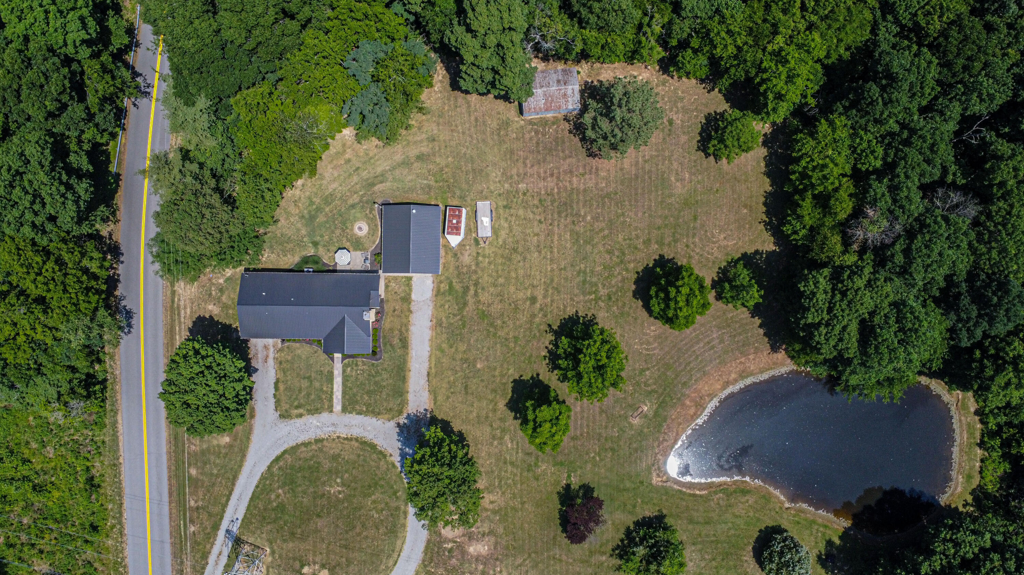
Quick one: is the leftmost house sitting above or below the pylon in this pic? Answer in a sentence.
Looking at the scene, the leftmost house is located above the pylon.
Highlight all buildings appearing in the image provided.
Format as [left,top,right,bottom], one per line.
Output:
[236,272,381,355]
[521,67,580,116]
[381,204,442,275]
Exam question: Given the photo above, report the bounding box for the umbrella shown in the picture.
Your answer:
[335,248,351,264]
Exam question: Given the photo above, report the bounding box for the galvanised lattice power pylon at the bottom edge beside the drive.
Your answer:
[219,547,267,575]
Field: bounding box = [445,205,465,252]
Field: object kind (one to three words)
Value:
trailer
